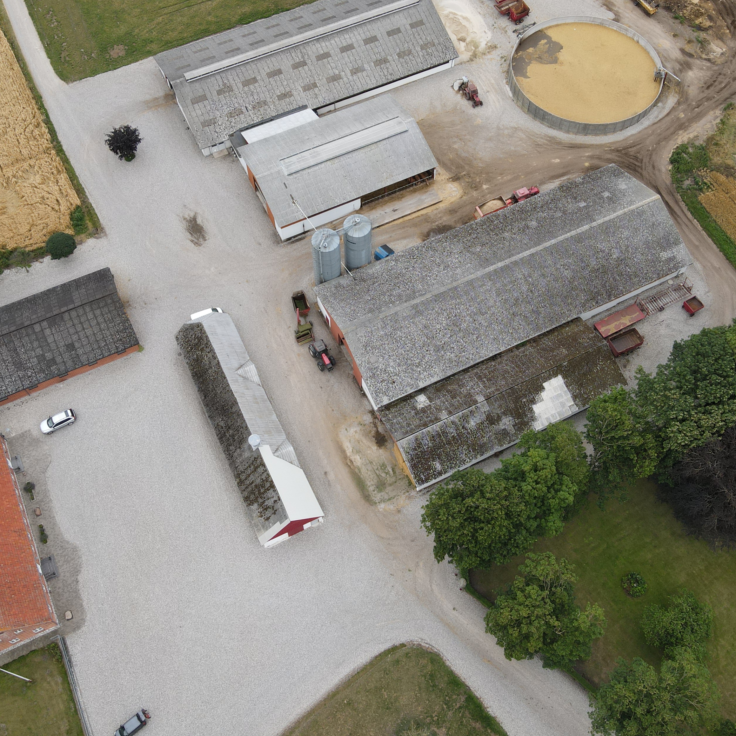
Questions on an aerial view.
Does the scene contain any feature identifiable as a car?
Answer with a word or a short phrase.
Yes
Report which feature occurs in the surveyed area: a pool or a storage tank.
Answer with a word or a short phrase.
storage tank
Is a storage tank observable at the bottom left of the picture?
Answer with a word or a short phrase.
No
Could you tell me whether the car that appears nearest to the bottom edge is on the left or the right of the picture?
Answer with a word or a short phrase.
left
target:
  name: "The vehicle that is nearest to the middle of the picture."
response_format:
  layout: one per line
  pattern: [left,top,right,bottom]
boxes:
[308,339,341,379]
